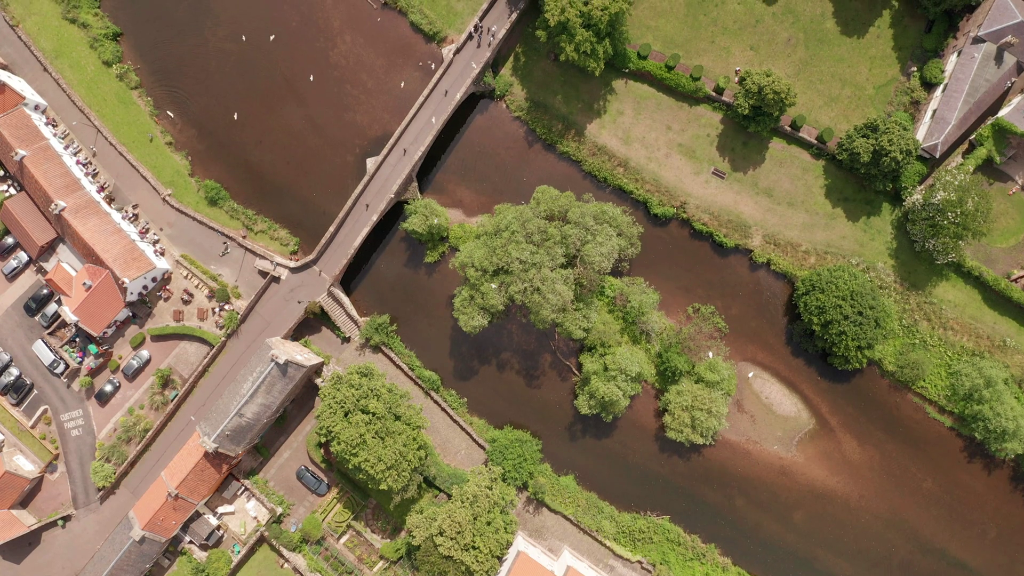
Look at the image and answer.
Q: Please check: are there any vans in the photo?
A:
Yes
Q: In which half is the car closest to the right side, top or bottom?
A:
bottom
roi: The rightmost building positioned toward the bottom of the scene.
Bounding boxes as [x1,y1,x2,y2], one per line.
[556,548,605,576]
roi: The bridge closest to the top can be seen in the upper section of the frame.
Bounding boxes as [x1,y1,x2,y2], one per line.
[309,0,533,272]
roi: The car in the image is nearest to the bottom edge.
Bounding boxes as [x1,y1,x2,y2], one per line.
[294,465,332,496]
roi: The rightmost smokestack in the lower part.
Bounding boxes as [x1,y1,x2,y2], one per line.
[264,350,288,369]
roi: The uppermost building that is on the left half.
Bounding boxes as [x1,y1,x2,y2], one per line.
[0,69,47,114]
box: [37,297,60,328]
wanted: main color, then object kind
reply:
gray car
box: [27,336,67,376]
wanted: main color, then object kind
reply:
white van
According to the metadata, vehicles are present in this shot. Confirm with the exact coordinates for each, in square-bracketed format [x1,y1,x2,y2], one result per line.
[91,377,124,408]
[22,282,59,318]
[37,297,60,328]
[294,465,332,496]
[6,374,38,406]
[0,250,35,282]
[0,364,28,398]
[0,233,19,259]
[0,342,20,375]
[27,336,67,376]
[120,346,154,382]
